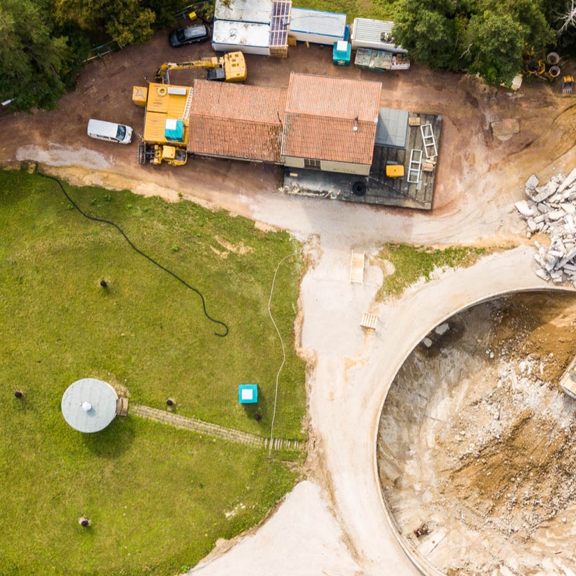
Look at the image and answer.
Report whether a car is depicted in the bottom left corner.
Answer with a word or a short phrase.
No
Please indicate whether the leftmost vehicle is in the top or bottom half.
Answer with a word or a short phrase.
top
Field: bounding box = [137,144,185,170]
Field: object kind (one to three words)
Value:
work vehicle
